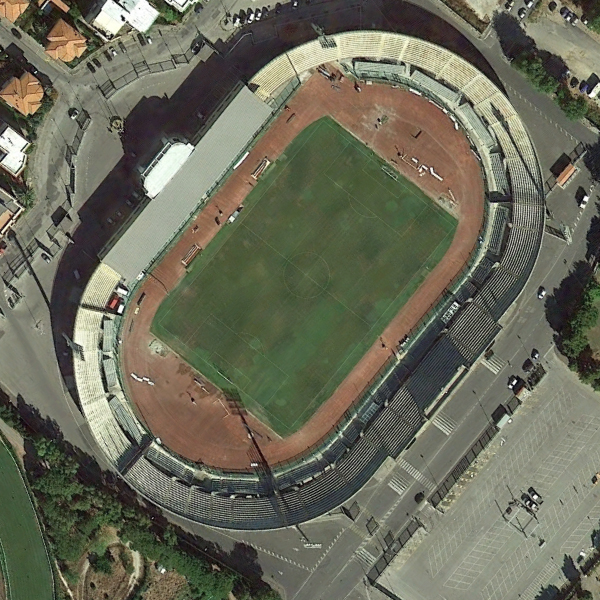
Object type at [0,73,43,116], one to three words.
house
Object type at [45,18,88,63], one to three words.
house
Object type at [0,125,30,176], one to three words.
building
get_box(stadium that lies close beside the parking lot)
[69,26,548,532]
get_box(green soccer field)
[150,116,458,440]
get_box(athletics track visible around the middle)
[122,64,485,469]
